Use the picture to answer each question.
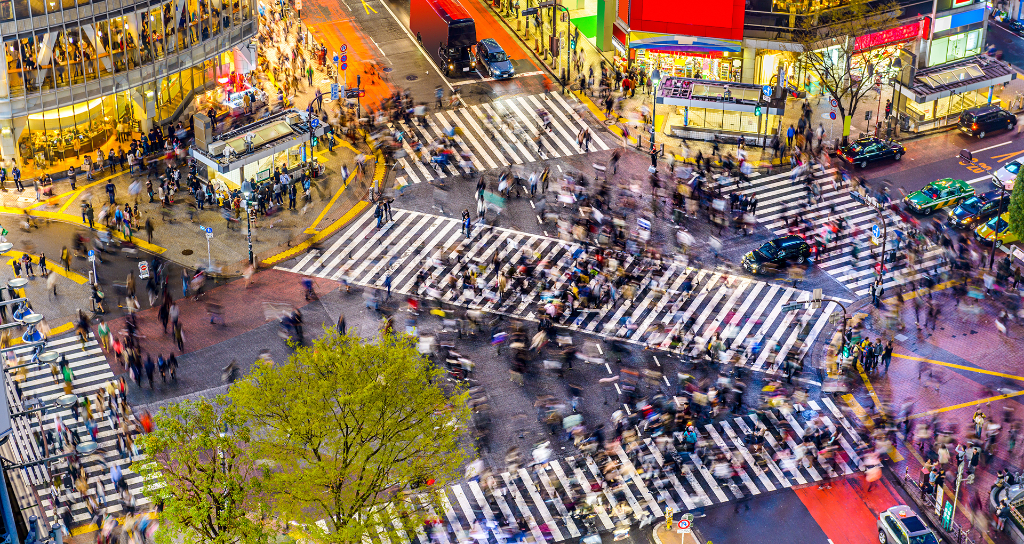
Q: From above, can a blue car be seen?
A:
Yes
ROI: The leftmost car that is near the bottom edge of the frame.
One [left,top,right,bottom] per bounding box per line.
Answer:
[876,507,939,544]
